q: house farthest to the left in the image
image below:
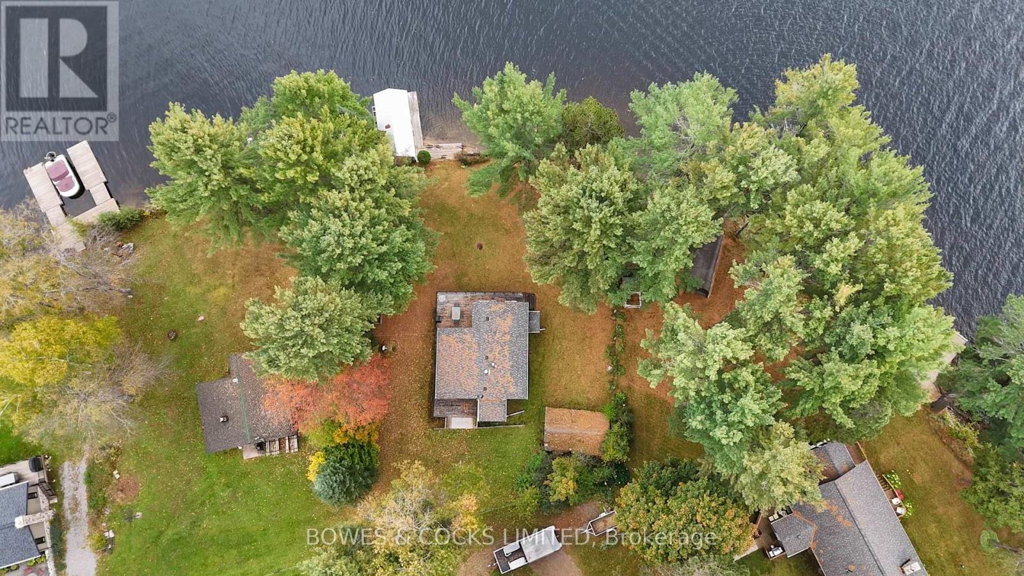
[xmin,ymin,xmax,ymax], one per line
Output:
[0,455,58,568]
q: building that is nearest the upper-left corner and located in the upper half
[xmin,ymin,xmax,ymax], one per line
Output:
[373,88,424,159]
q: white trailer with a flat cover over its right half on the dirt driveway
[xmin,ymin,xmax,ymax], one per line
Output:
[488,527,565,576]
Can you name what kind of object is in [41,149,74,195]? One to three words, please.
boat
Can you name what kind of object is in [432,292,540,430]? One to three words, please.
house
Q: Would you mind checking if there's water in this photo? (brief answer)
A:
Yes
